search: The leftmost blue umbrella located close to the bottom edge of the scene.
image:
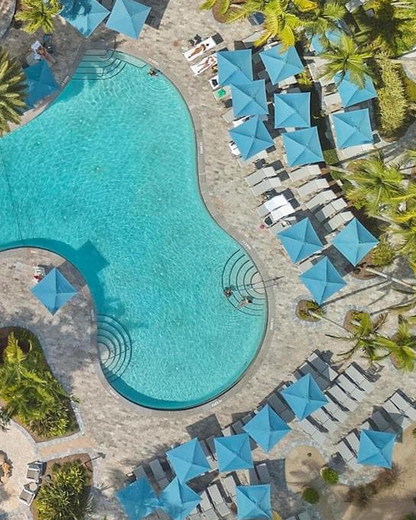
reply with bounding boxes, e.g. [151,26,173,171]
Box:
[114,475,160,519]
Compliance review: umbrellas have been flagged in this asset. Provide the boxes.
[214,48,252,86]
[226,112,275,161]
[294,253,344,304]
[326,216,377,264]
[350,426,393,466]
[61,0,109,38]
[17,61,62,109]
[239,399,289,449]
[212,430,251,469]
[258,42,301,86]
[232,478,269,518]
[154,472,201,520]
[114,475,160,519]
[277,369,328,420]
[104,0,149,39]
[164,434,213,481]
[279,123,323,167]
[269,92,307,128]
[275,216,320,263]
[27,264,77,313]
[328,108,372,148]
[227,78,267,117]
